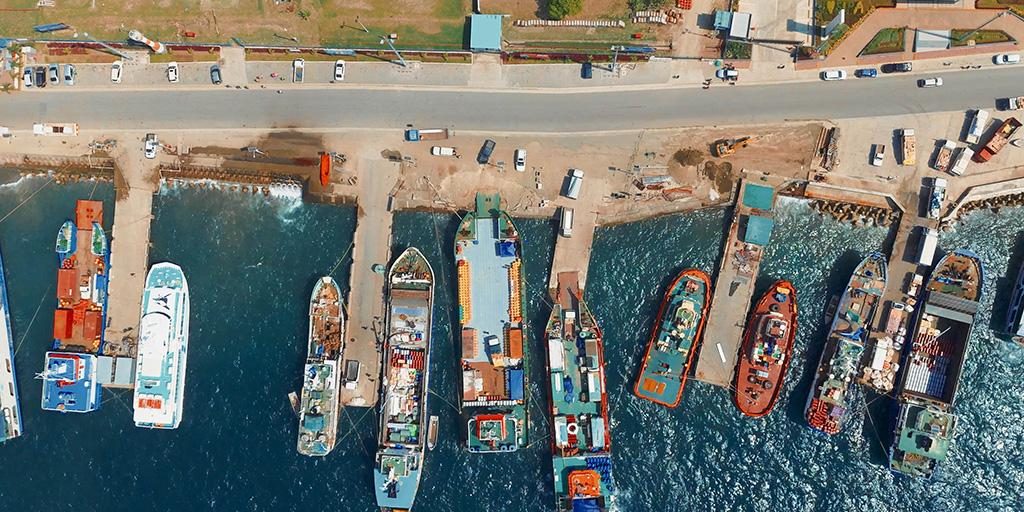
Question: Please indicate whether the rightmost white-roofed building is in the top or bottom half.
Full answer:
Seen from above, the rightmost white-roofed building lies in the top half of the view.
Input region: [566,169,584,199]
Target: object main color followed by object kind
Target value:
white vehicle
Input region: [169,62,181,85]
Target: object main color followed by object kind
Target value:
white vehicle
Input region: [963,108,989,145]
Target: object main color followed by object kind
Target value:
white truck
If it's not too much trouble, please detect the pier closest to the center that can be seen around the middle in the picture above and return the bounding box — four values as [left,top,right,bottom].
[548,190,602,290]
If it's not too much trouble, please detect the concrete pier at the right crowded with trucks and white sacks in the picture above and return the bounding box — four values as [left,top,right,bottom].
[854,190,944,397]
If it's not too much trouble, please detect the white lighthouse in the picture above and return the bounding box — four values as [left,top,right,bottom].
[130,28,166,56]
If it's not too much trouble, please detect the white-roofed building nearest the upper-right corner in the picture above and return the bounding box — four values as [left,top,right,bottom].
[726,11,751,42]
